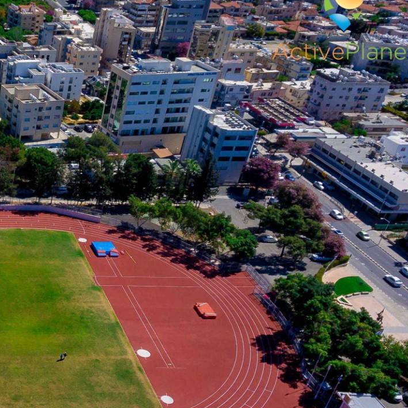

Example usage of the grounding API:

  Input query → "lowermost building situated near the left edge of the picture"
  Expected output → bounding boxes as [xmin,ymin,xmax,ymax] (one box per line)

[0,81,64,141]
